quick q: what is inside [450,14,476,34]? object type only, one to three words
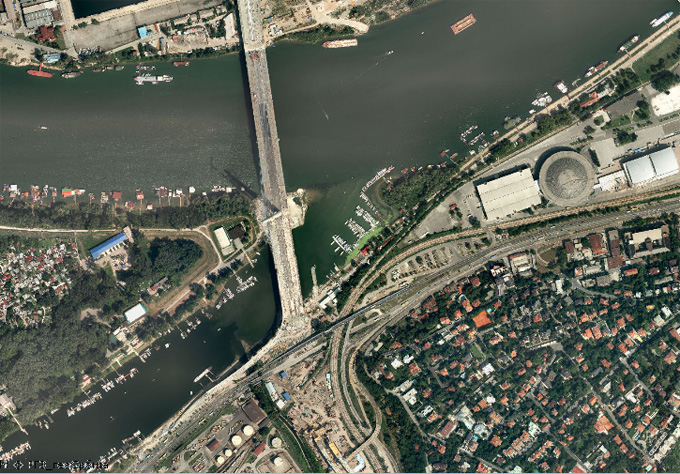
ship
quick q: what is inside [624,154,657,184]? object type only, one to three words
building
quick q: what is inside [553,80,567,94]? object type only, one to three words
boat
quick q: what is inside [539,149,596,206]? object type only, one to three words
building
